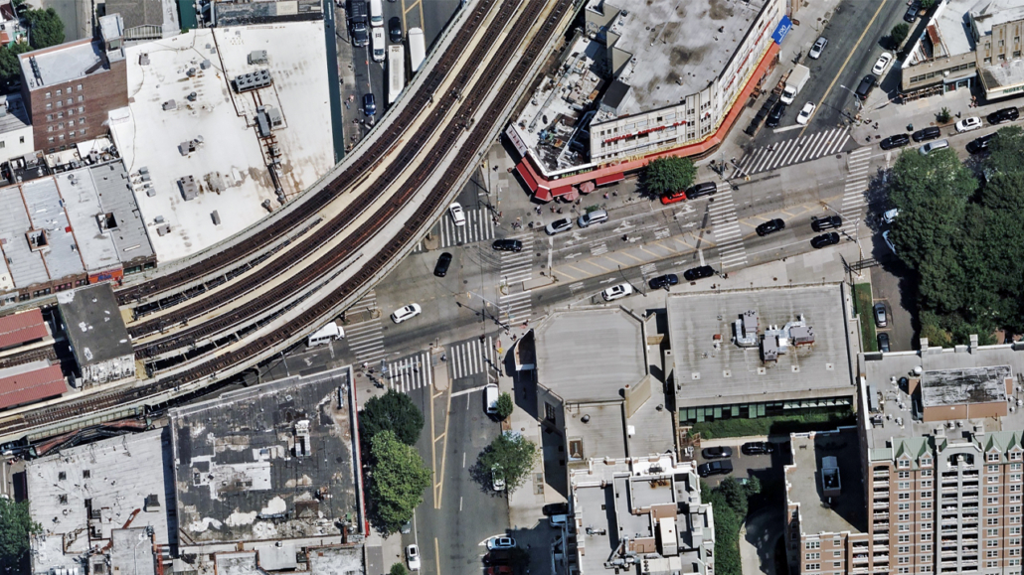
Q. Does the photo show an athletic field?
No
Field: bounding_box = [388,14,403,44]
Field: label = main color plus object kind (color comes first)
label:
black car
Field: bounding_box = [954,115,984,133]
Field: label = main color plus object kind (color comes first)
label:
white car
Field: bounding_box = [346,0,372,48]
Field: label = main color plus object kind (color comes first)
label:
black truck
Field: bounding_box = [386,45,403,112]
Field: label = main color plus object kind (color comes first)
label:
white vehicle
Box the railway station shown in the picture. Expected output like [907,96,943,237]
[0,308,136,419]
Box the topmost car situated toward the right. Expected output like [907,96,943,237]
[902,0,923,24]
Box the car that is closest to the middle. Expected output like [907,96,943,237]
[492,237,522,252]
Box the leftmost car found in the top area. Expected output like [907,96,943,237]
[14,0,38,20]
